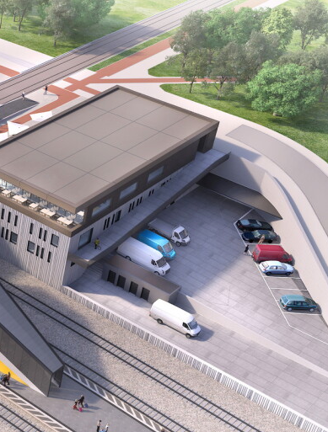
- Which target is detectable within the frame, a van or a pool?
van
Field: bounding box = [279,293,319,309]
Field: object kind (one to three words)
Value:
car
